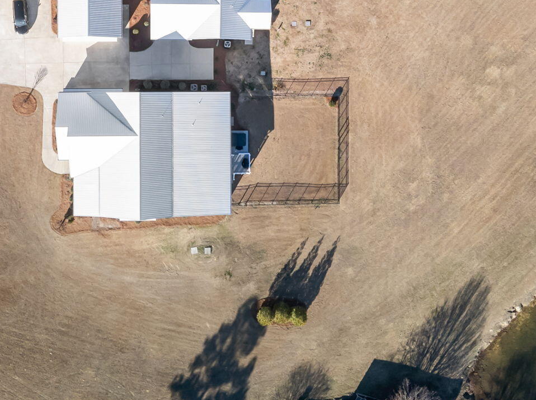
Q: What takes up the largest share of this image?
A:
grass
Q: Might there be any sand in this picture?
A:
No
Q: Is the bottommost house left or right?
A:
left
